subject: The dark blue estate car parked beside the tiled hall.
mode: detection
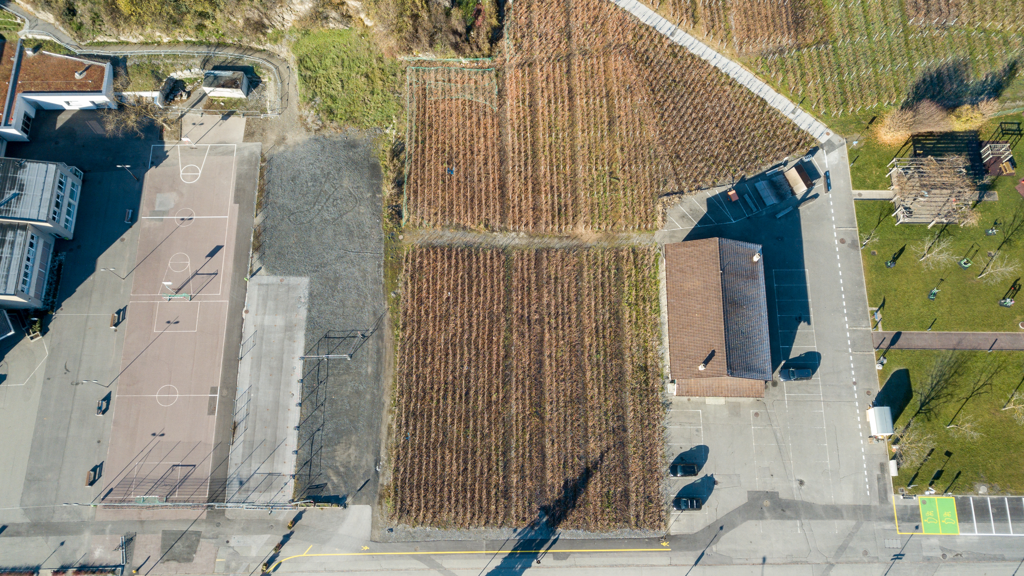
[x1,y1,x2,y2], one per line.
[781,368,817,384]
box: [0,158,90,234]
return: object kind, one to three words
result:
building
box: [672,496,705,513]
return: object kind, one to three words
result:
car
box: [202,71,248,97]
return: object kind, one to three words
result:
shed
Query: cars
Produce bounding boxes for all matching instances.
[781,368,817,384]
[670,462,701,479]
[672,496,705,513]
